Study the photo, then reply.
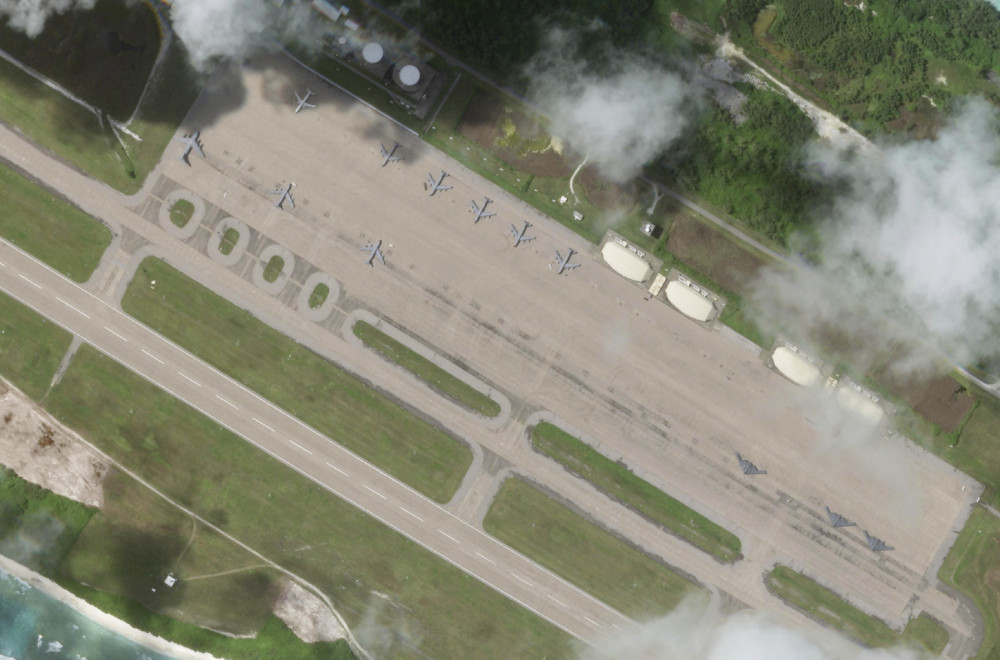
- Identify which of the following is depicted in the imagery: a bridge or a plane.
plane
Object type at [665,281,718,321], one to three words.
hangar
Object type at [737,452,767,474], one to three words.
airplane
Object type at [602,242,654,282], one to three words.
hangar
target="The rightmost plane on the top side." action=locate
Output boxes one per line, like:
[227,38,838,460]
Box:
[557,249,580,273]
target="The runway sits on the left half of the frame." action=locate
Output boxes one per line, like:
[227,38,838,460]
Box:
[0,237,697,660]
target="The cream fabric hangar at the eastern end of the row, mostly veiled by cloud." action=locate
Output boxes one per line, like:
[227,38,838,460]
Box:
[837,384,890,425]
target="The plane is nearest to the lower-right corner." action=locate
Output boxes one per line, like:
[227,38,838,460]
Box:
[864,529,896,551]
